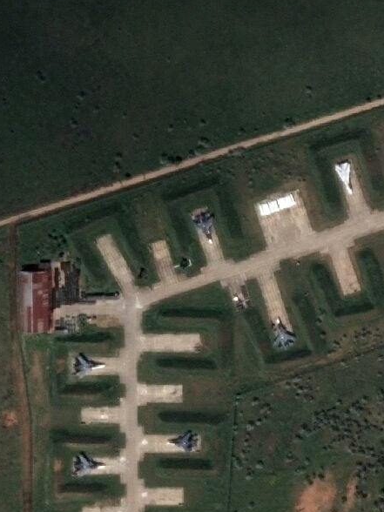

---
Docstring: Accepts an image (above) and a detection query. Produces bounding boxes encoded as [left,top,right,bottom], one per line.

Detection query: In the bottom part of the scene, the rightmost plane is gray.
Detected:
[273,319,293,350]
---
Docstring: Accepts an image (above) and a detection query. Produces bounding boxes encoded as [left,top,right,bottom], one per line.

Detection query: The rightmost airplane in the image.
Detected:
[335,161,350,193]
